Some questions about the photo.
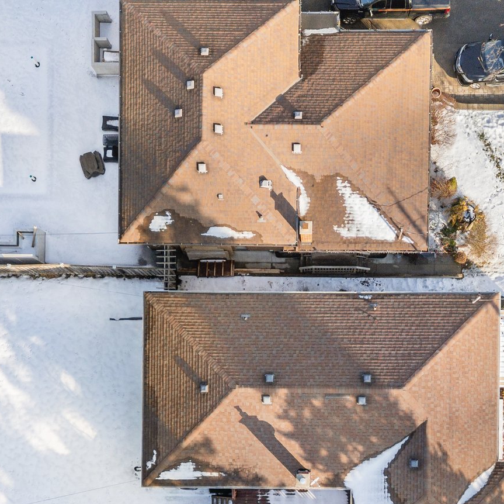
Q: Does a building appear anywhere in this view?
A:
Yes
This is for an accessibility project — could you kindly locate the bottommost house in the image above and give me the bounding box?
[140,289,504,504]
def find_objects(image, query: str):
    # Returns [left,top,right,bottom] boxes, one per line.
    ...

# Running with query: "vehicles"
[329,0,450,24]
[453,33,504,88]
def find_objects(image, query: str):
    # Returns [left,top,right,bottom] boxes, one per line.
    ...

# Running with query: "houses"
[116,0,434,255]
[140,289,504,504]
